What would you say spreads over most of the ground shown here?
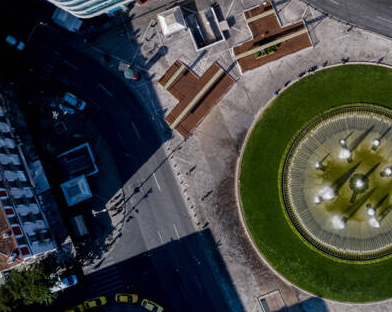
paved ground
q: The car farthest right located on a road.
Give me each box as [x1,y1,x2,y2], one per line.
[141,298,163,312]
